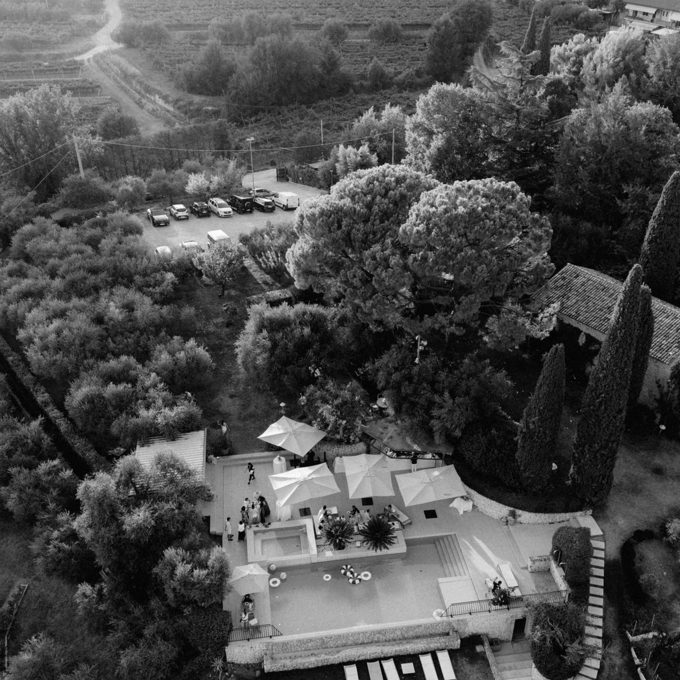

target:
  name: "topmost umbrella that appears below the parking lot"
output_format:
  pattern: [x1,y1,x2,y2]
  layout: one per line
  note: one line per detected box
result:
[256,415,330,468]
